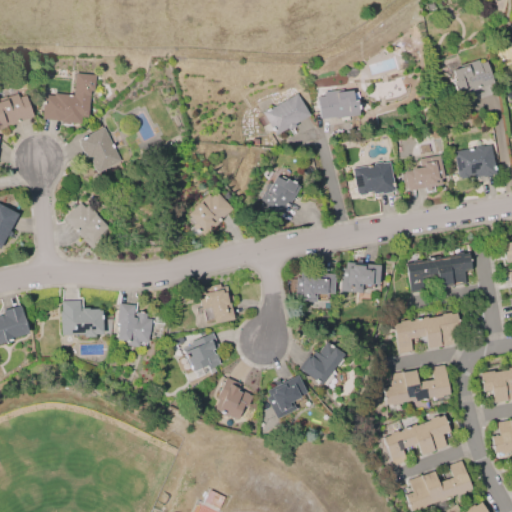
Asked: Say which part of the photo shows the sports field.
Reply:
bottom left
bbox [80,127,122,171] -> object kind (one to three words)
house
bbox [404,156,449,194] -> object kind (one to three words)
house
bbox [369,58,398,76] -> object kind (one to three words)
swimming pool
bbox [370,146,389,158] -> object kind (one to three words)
swimming pool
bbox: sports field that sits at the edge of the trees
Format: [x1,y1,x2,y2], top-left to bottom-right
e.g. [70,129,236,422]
[0,403,179,512]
